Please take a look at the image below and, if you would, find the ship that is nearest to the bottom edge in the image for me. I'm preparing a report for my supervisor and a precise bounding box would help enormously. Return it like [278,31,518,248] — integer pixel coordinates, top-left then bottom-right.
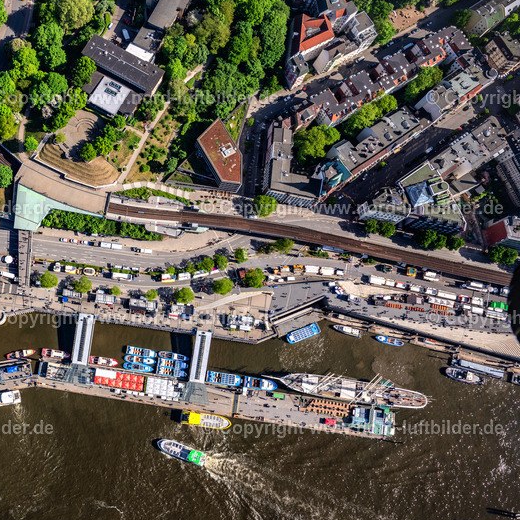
[158,441,207,467]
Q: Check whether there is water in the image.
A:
Yes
